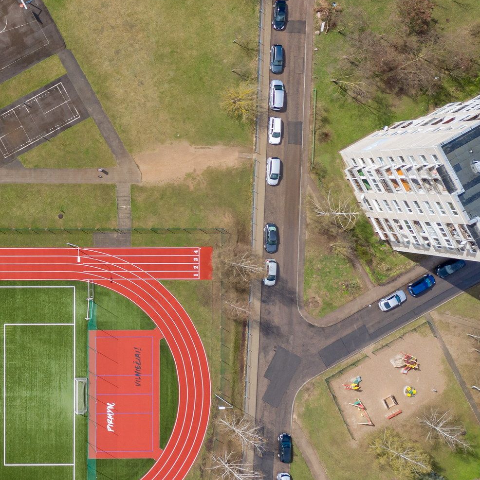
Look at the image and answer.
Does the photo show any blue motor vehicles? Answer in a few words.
Yes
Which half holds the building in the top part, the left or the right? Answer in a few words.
right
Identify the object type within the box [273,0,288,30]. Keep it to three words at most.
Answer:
car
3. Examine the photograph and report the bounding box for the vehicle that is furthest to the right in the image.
[437,259,467,279]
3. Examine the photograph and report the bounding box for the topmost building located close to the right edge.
[339,89,480,263]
